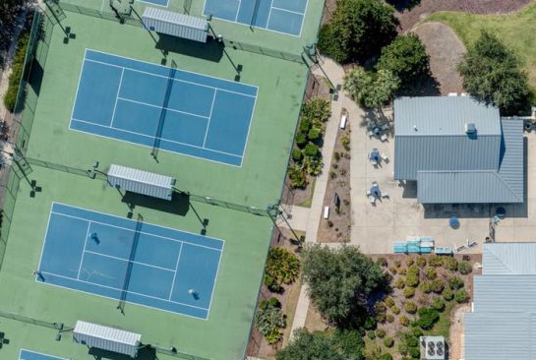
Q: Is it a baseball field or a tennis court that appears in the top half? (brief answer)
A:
tennis court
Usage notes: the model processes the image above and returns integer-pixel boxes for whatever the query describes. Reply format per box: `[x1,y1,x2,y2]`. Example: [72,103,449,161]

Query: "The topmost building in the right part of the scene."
[394,97,523,203]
